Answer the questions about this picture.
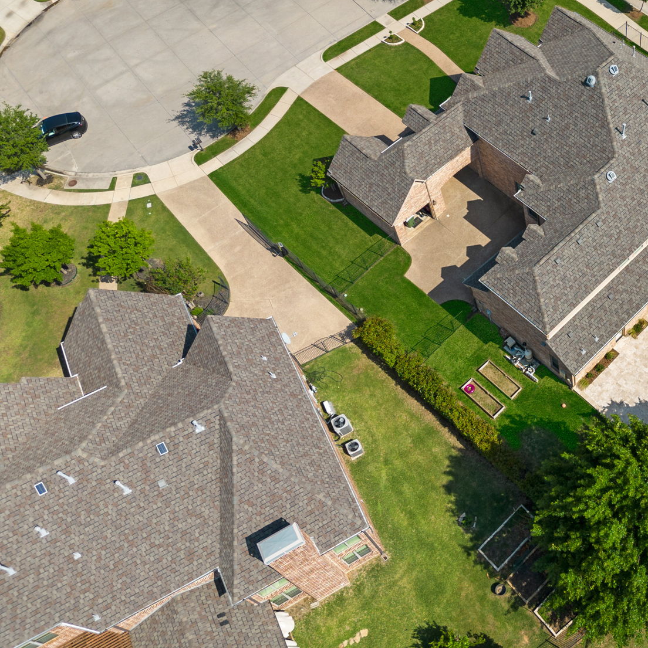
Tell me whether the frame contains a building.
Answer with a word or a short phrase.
Yes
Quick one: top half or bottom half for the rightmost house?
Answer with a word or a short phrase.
top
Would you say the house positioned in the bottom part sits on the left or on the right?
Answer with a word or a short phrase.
left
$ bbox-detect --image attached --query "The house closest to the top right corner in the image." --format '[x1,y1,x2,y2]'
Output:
[326,6,648,387]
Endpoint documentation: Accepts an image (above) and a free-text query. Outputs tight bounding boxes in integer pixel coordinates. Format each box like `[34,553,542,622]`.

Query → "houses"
[326,6,648,387]
[0,288,386,648]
